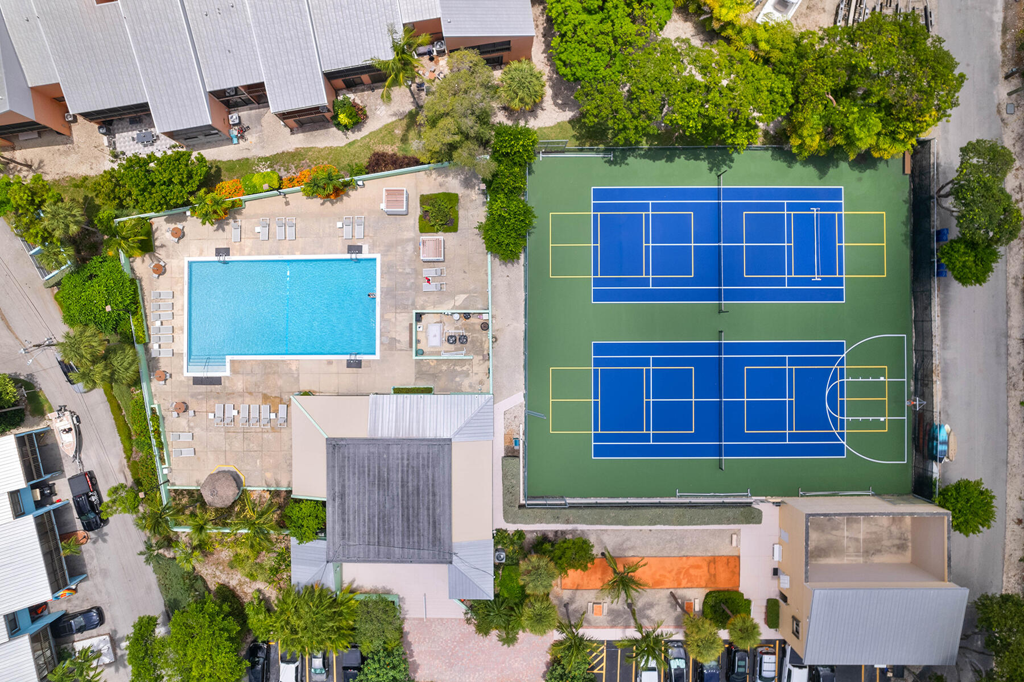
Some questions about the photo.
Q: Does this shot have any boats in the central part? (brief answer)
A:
No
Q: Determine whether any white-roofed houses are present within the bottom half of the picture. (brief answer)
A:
Yes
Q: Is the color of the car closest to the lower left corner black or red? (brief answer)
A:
black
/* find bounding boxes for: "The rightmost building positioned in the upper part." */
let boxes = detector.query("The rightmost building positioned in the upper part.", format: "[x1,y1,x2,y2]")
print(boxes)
[443,0,535,59]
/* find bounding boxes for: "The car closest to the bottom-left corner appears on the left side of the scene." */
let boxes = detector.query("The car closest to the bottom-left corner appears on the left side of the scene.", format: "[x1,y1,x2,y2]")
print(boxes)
[52,604,107,637]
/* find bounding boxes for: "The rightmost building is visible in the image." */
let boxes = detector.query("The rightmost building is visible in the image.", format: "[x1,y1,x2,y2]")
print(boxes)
[778,499,969,665]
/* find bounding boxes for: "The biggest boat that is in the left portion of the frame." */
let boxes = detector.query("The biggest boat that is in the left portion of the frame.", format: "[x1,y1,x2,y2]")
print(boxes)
[44,404,73,459]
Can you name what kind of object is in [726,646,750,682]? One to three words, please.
car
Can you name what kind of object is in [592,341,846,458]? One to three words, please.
tennis court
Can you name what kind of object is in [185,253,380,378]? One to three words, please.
swimming pool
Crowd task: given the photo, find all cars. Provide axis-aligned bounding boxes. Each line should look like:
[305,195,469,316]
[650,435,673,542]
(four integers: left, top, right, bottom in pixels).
[665,643,690,682]
[726,646,750,682]
[697,653,723,682]
[783,646,810,682]
[306,648,330,682]
[812,664,838,682]
[66,470,106,533]
[753,645,780,682]
[52,349,89,395]
[52,604,107,637]
[275,638,302,682]
[635,645,662,682]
